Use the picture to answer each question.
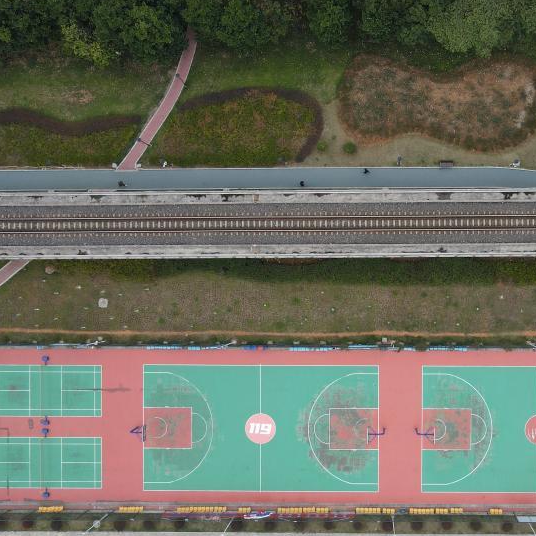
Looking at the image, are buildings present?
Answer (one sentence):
No, there's no building here.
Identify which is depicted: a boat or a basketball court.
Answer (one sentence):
It is a basketball court that can be seen here.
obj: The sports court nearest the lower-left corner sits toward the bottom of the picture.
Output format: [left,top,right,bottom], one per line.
[0,437,102,488]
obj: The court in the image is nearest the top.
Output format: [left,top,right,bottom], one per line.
[0,365,102,417]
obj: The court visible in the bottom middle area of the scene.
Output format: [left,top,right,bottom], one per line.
[143,364,379,492]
